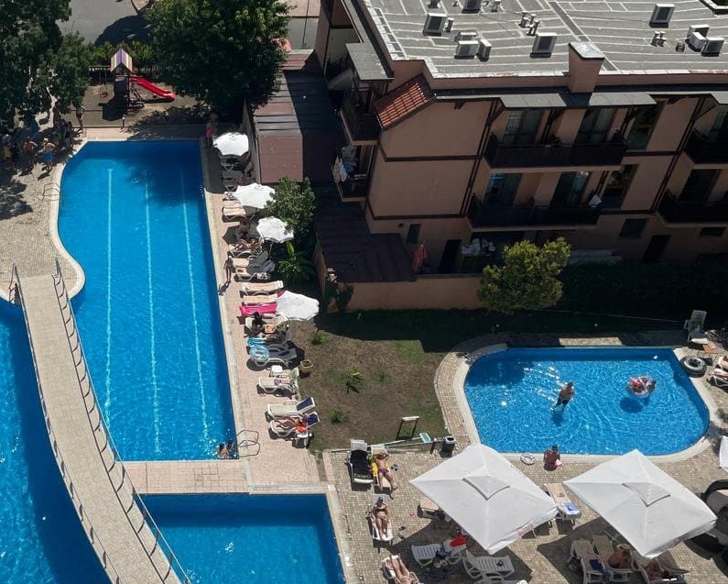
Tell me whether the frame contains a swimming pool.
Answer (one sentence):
Yes, the picture does show a swimming pool.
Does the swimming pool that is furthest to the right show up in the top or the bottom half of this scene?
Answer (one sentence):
It is in the bottom half that the swimming pool that is furthest to the right appears.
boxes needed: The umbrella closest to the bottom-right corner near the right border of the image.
[561,450,717,560]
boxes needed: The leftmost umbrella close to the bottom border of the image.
[410,443,557,557]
